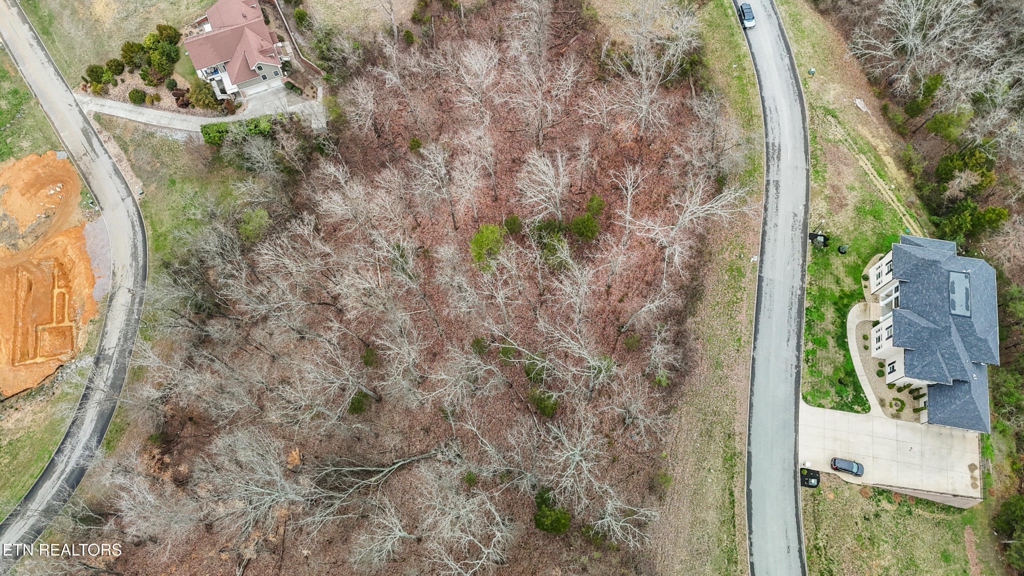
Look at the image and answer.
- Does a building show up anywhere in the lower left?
No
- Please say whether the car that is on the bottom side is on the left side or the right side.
right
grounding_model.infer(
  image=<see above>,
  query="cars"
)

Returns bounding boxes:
[739,1,758,29]
[831,458,866,479]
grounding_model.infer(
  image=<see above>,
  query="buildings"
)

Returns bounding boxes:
[184,0,297,102]
[868,236,1000,436]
